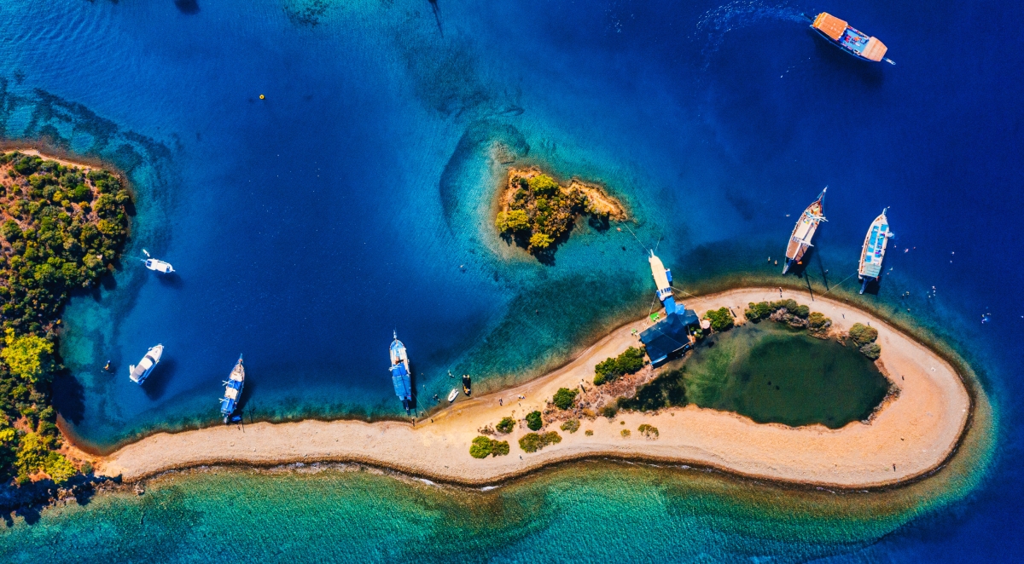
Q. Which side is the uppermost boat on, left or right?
right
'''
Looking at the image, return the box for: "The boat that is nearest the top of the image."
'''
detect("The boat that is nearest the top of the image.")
[802,10,897,63]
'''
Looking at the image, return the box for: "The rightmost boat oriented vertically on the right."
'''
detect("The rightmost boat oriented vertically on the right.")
[859,208,889,293]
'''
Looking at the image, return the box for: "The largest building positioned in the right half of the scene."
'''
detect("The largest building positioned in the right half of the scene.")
[638,309,701,366]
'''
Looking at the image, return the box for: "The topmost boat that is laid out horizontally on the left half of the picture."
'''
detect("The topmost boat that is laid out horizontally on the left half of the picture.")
[141,259,175,273]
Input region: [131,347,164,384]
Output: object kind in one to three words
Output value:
boat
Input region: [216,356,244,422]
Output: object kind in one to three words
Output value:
boat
